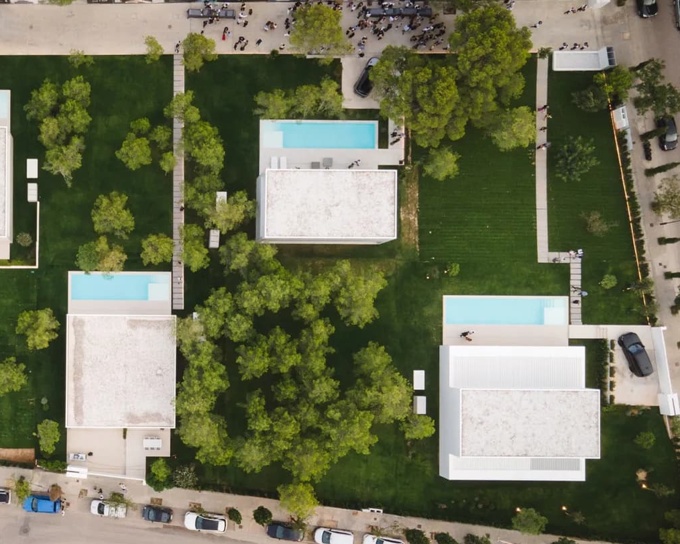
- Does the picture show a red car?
No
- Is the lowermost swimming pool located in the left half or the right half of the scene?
right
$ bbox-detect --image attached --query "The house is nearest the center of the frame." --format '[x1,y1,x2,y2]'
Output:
[255,170,397,244]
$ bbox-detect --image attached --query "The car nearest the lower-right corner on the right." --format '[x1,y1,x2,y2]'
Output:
[618,331,652,378]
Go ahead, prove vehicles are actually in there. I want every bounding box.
[0,487,13,503]
[352,58,381,101]
[635,0,657,19]
[265,521,304,540]
[361,532,405,544]
[90,498,127,517]
[141,504,173,522]
[23,494,62,512]
[183,509,227,531]
[313,526,354,544]
[618,331,652,378]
